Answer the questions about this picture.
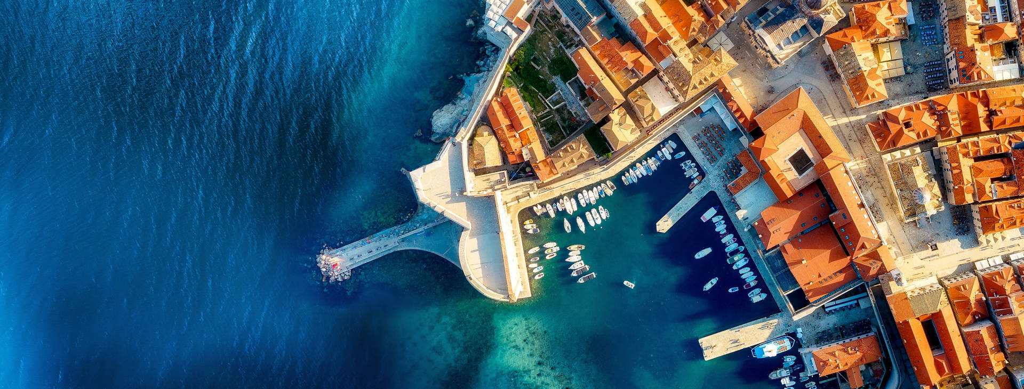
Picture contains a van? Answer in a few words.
No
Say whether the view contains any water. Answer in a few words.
Yes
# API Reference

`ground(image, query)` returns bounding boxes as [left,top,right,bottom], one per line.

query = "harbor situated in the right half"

[506,123,811,377]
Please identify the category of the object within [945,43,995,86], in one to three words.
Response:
house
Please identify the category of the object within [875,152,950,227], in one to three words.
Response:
building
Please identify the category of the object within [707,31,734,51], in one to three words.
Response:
umbrella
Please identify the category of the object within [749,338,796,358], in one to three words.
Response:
vessel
